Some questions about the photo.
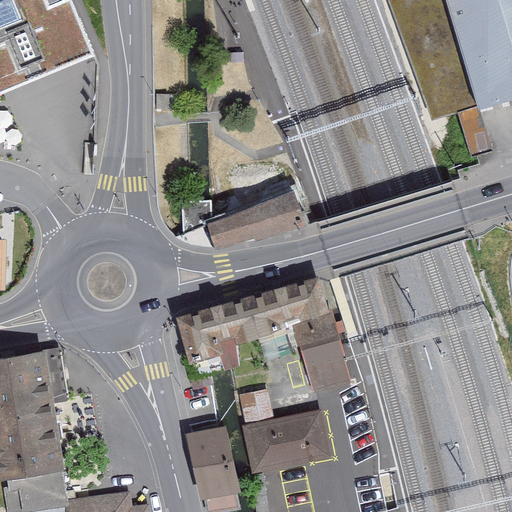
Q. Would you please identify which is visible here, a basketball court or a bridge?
bridge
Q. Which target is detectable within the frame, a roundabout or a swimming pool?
roundabout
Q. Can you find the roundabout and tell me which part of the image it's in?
left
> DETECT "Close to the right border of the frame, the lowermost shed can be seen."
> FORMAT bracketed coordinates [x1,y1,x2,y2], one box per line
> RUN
[459,106,493,156]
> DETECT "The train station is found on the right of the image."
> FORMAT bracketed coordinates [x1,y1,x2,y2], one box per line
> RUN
[329,275,412,512]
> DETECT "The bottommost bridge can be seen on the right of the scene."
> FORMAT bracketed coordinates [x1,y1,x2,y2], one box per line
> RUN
[310,182,471,279]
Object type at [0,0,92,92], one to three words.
building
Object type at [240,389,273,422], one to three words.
shed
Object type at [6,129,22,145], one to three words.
umbrella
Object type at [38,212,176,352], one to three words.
roundabout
